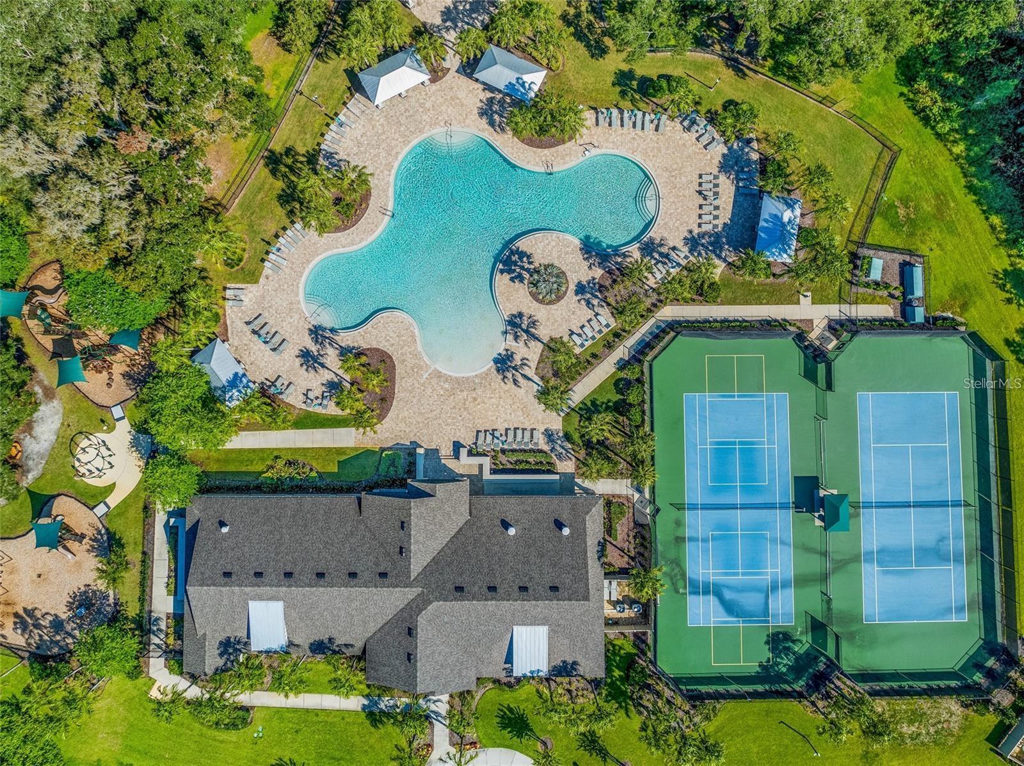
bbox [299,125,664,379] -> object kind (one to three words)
swimming pool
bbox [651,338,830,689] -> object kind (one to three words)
tennis court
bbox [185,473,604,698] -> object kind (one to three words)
building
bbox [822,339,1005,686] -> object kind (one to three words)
tennis court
